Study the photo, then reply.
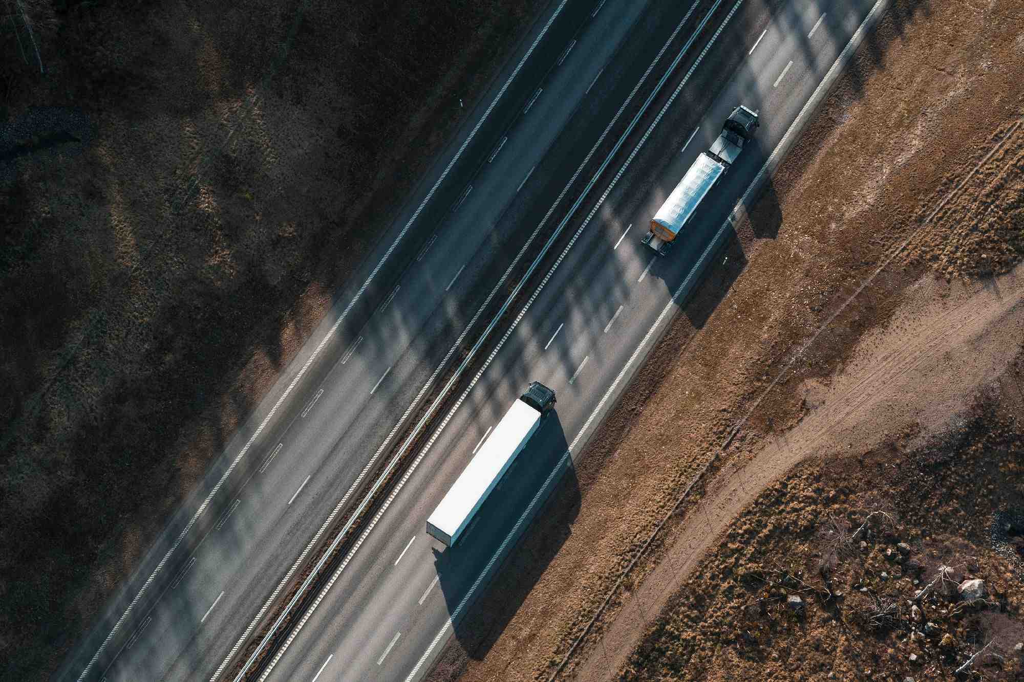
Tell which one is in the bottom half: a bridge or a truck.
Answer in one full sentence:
There is a truck in the bottom half.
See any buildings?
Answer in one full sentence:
No, there isn't any building down there.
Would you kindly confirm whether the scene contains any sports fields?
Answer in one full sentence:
No, there appears to be no sports field in this shot.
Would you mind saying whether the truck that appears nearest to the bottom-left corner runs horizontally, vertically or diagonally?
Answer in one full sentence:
The truck that appears nearest to the bottom-left corner runs diagonally in the image.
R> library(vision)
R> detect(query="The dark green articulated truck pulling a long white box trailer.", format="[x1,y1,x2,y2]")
[426,379,560,550]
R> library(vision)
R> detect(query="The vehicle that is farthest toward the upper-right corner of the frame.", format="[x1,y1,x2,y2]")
[642,108,760,258]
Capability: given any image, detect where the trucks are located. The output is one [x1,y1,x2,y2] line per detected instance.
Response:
[426,379,560,550]
[642,108,760,258]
